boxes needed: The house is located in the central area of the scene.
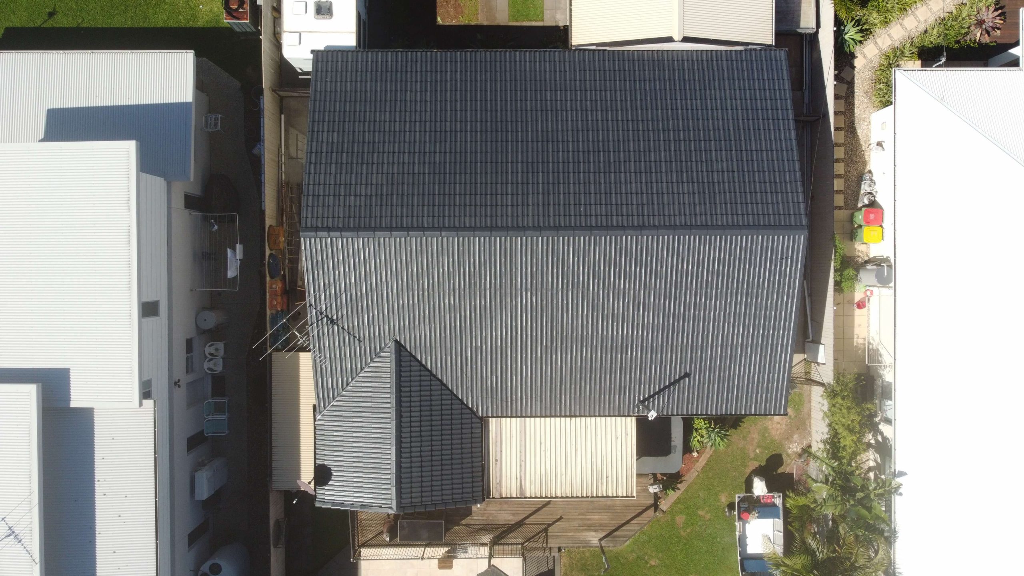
[298,46,807,514]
